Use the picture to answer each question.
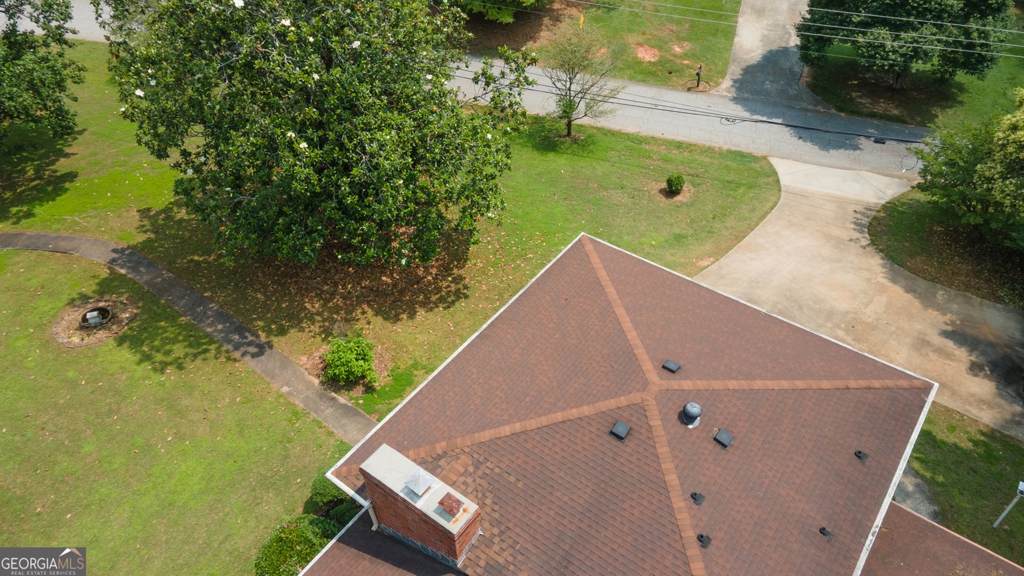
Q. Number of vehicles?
zero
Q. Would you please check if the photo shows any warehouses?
No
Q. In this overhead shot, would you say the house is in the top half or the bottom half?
bottom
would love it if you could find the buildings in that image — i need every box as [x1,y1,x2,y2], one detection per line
[296,234,1024,576]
